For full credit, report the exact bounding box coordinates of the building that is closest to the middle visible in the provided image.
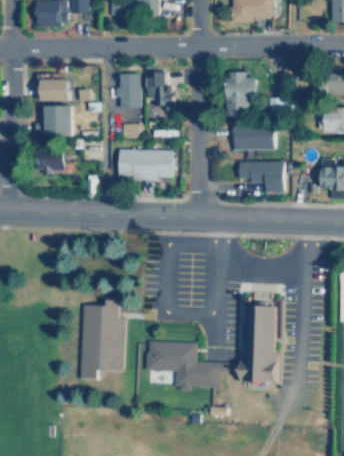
[118,148,176,180]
